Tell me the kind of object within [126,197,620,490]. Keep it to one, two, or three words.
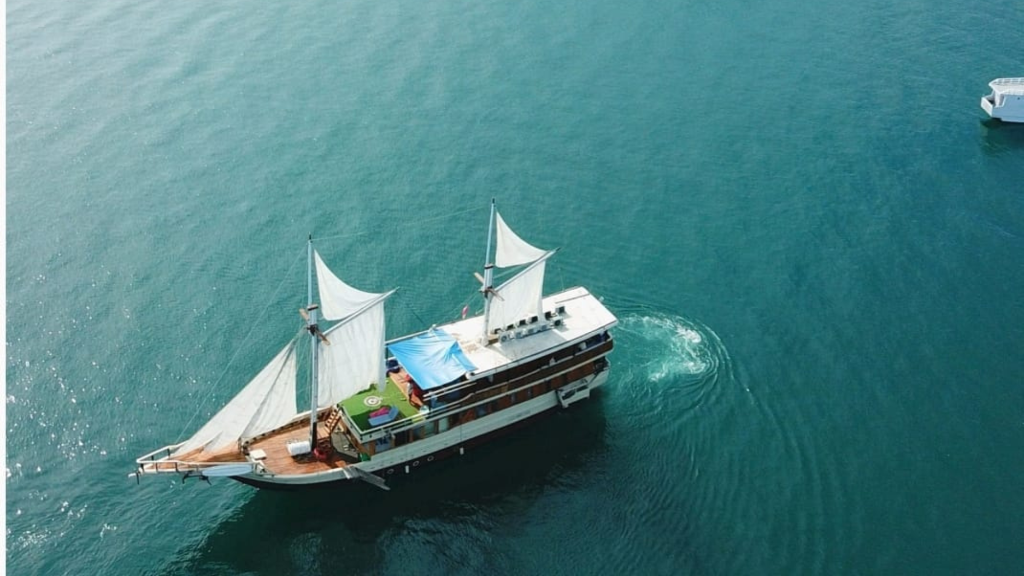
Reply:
ship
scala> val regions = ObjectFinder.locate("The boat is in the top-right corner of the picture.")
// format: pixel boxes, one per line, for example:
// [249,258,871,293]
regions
[983,74,1024,121]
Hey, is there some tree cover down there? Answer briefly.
No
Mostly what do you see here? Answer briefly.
water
